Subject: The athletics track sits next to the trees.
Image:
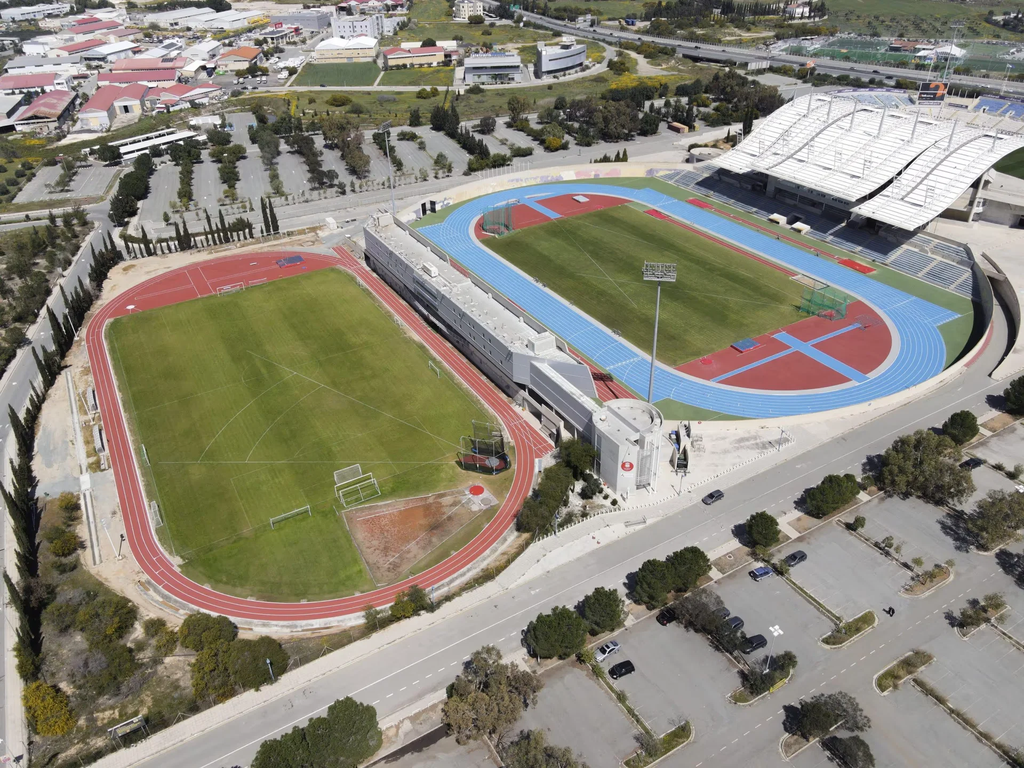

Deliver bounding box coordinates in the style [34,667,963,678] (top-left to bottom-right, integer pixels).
[420,184,959,418]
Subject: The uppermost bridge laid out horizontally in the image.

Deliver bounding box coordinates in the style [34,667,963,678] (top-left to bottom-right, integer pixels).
[667,52,762,73]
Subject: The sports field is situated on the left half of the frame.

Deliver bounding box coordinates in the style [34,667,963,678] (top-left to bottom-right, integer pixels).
[102,265,515,603]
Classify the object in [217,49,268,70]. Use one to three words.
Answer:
building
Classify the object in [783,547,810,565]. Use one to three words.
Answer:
car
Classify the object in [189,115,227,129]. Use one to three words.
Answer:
shed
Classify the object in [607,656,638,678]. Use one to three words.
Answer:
car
